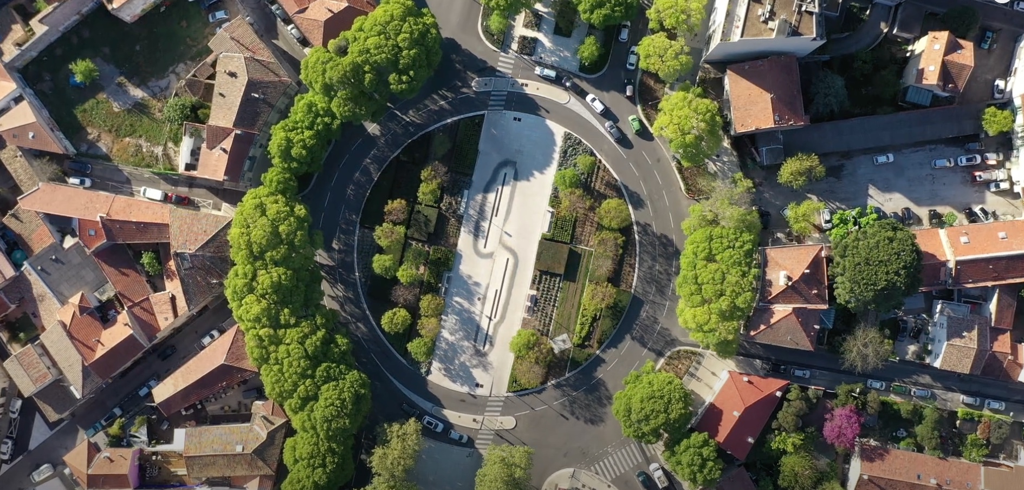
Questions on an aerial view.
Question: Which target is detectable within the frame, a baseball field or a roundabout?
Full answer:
It is a roundabout that can be seen here.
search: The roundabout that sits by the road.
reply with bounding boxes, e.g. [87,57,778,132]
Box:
[310,45,697,481]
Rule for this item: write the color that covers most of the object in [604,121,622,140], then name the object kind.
gray car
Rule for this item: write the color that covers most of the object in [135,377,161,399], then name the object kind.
blue truck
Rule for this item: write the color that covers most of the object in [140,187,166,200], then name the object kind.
white vehicle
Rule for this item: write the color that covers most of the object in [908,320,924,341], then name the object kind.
black car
